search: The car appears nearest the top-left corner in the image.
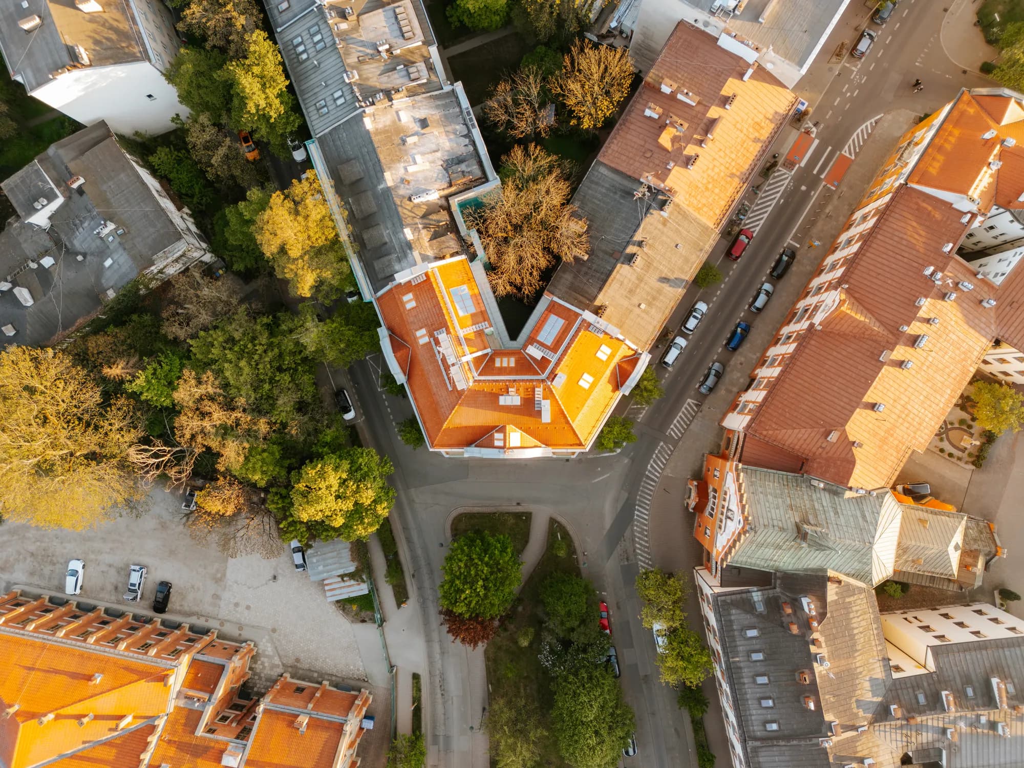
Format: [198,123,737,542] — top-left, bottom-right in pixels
[237,129,263,165]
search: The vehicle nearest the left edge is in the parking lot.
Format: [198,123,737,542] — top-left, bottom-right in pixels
[66,559,87,594]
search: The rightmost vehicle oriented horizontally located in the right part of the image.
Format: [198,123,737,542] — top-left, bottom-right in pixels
[893,481,936,498]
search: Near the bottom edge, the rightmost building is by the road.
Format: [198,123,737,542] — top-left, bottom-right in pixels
[693,568,1024,768]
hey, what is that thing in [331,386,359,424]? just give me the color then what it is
black car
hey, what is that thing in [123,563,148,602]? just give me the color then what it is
gray car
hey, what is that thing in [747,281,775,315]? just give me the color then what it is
gray car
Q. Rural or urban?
urban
